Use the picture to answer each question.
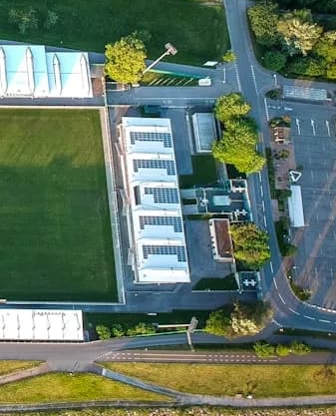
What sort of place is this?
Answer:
sports ground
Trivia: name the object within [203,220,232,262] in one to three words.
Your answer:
house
